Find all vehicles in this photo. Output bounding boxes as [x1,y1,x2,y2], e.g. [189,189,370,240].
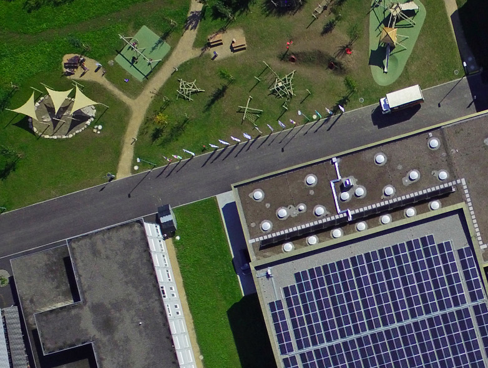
[378,84,426,114]
[236,250,253,277]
